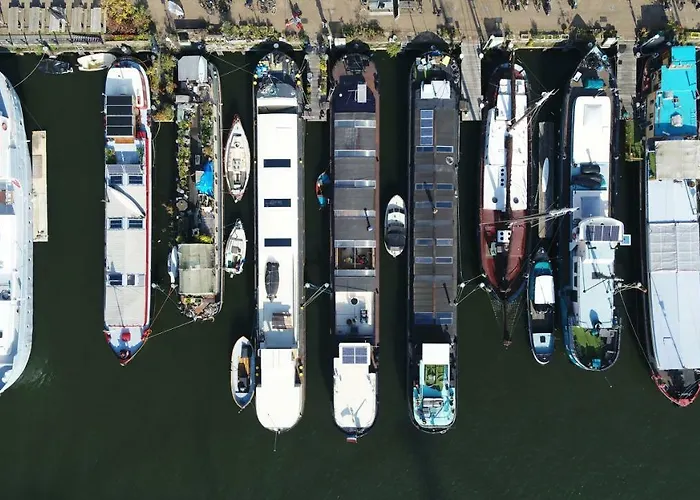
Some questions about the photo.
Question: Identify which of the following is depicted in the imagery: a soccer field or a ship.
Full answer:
It is a ship that can be seen here.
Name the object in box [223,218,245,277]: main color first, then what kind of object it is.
white boat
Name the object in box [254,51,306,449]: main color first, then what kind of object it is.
white boat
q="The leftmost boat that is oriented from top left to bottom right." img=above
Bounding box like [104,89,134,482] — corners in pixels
[107,186,144,220]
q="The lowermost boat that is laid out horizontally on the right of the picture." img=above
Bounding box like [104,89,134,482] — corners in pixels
[570,172,608,187]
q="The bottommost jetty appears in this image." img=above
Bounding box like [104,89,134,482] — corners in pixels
[33,131,48,242]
